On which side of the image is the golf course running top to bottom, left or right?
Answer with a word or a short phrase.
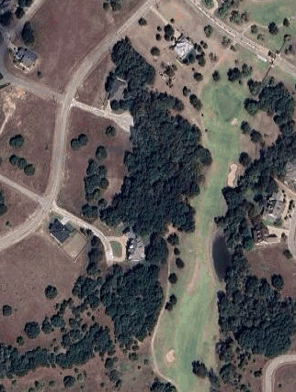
right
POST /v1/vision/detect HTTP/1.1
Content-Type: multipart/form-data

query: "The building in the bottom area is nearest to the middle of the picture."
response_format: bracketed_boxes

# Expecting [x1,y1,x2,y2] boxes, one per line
[127,231,144,260]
